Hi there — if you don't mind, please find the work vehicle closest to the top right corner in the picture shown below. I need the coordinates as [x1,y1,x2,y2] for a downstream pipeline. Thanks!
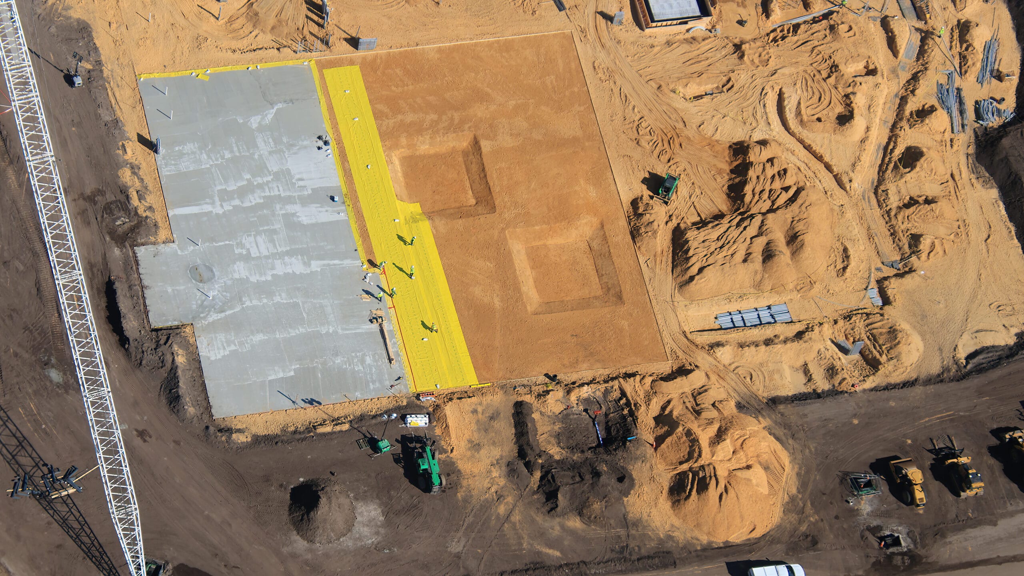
[649,163,682,209]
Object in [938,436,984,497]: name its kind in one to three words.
work vehicle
